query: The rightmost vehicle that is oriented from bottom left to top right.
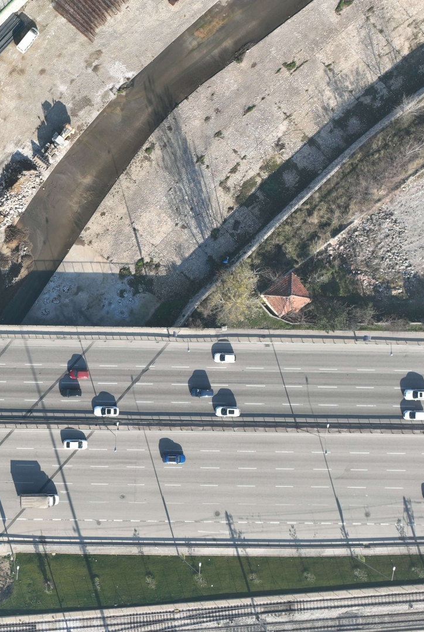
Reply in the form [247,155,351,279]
[35,127,71,168]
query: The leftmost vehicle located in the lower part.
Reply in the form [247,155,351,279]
[16,494,58,510]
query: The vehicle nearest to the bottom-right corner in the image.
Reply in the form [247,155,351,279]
[402,409,424,421]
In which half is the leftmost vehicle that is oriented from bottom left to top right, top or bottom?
top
